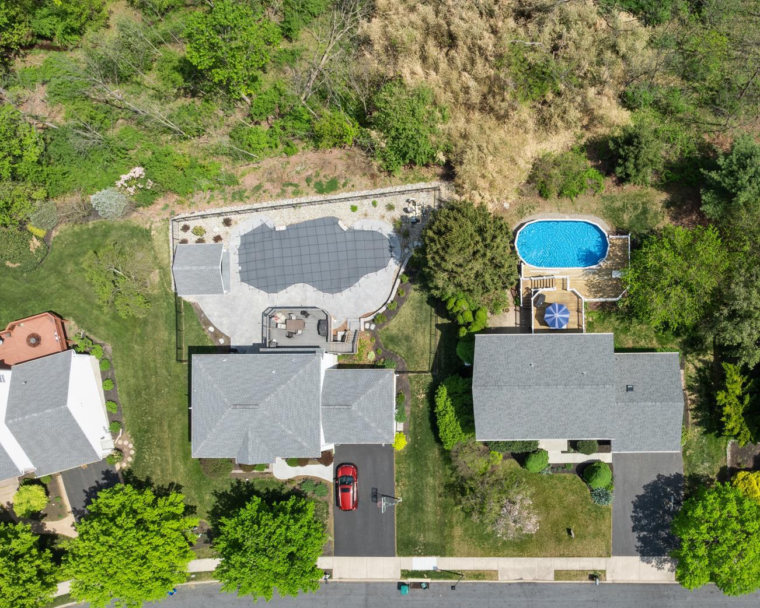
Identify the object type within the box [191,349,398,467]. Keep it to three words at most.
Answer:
house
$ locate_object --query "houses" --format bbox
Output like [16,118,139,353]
[191,349,398,467]
[472,333,684,453]
[0,348,127,485]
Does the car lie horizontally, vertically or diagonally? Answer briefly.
vertically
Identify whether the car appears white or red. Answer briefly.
red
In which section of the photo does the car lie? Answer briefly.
bottom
